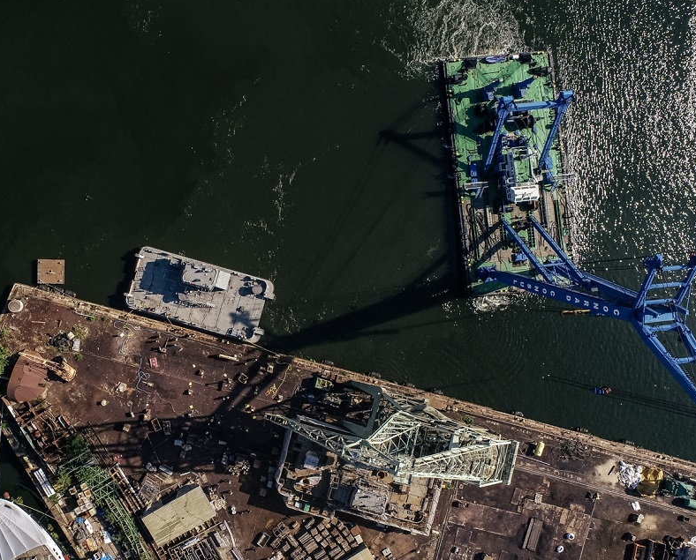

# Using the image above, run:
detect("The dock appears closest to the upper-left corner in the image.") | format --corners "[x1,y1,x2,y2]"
[38,260,65,284]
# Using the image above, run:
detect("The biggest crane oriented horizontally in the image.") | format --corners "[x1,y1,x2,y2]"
[259,378,522,497]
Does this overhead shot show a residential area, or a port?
port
